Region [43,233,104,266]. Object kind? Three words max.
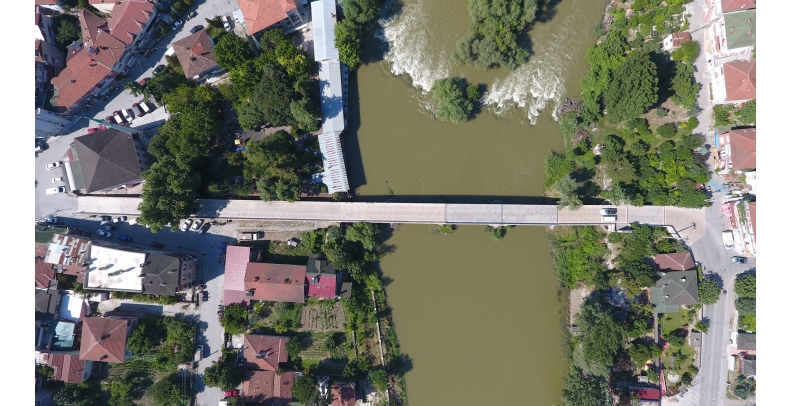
house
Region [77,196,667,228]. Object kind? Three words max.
bridge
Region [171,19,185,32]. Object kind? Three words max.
vehicle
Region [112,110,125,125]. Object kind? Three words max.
vehicle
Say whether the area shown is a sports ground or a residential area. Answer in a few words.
residential area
